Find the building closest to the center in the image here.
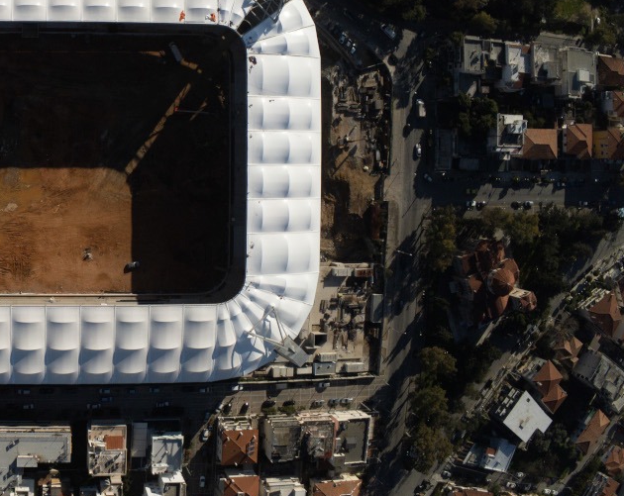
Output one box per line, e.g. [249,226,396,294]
[314,362,338,376]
